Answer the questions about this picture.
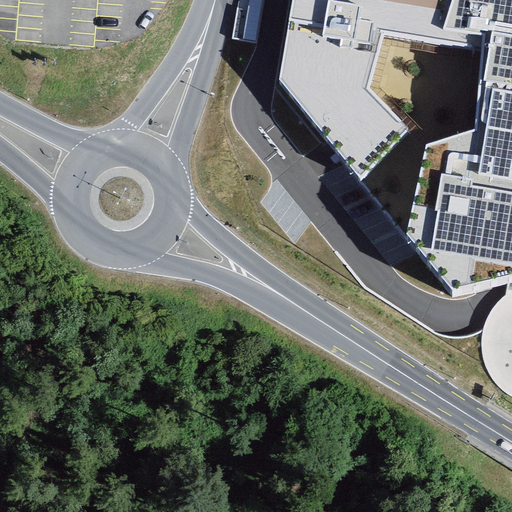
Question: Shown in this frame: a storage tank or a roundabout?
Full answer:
The one in the frame is a roundabout.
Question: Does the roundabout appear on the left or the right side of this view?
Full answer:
The roundabout sits on the left side.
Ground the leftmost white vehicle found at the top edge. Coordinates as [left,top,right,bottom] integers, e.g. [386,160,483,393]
[137,10,155,29]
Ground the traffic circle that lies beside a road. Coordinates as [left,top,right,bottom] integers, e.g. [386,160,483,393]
[53,130,191,268]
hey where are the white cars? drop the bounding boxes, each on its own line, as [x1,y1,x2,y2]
[137,10,155,29]
[500,440,512,456]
